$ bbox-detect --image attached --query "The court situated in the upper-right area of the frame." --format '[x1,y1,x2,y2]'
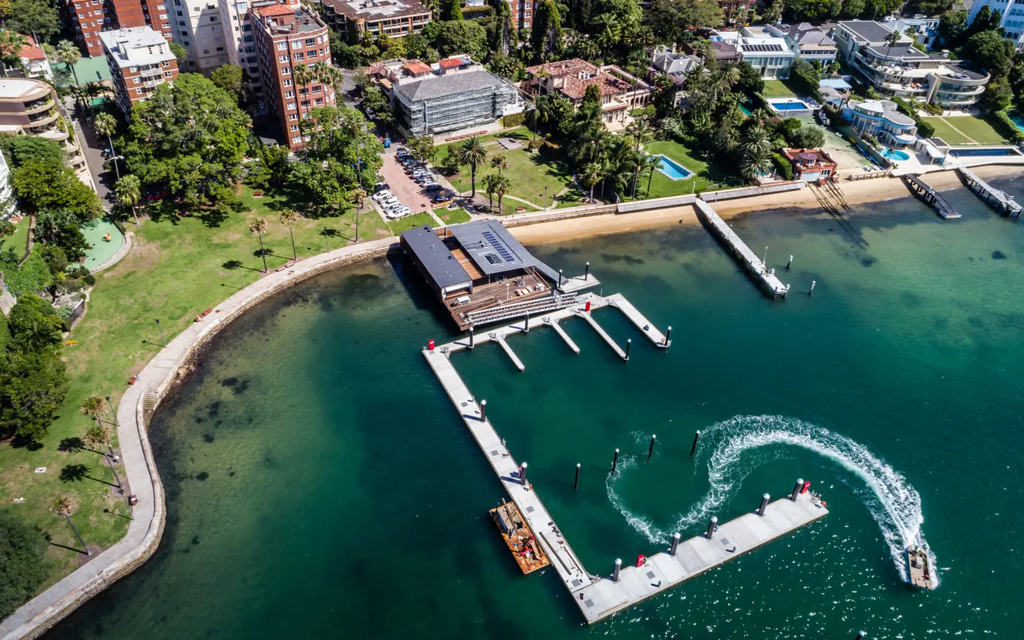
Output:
[801,121,874,175]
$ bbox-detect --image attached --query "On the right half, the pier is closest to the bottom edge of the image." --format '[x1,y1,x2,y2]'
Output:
[572,492,828,626]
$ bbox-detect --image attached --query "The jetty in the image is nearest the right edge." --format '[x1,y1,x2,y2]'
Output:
[958,167,1024,220]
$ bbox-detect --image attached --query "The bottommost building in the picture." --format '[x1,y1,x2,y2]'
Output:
[400,220,552,331]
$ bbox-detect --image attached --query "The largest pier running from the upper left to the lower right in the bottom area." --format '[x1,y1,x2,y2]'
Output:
[421,348,597,598]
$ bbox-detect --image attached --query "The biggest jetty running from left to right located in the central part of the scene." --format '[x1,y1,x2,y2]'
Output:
[434,293,629,375]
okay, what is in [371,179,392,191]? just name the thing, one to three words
vehicle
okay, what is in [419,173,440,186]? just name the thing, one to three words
vehicle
